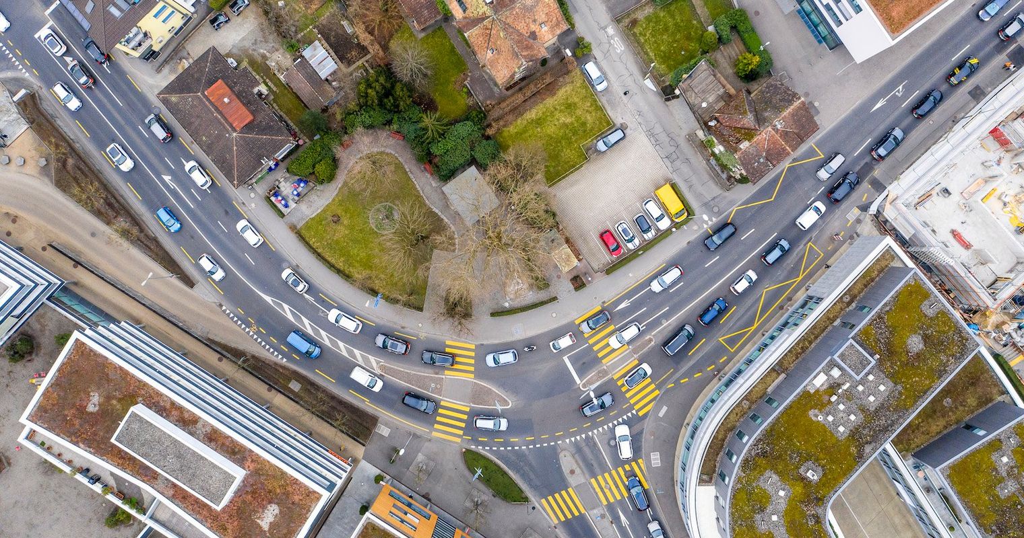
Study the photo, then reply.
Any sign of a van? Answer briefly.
Yes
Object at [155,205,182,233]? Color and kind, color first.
blue car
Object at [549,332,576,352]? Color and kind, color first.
white car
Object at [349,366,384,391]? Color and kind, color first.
white vehicle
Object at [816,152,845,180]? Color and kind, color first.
white car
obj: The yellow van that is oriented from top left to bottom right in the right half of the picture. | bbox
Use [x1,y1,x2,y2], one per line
[657,184,685,220]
